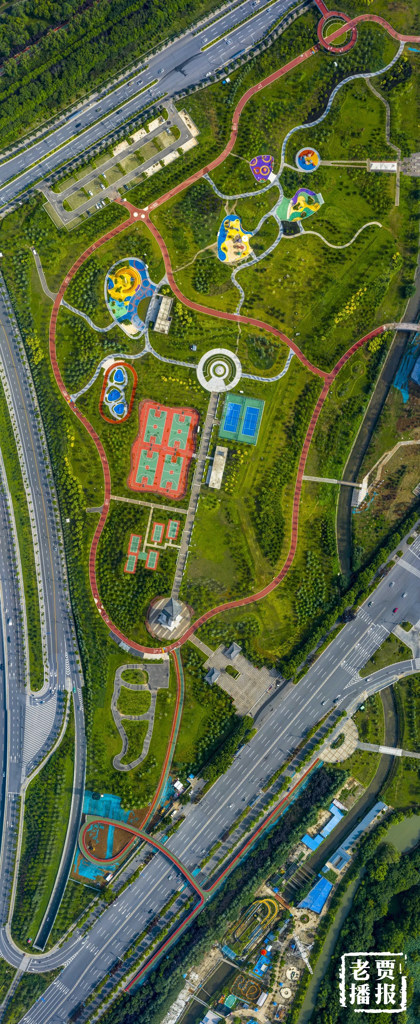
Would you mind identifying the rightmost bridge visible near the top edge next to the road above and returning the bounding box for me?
[317,0,357,50]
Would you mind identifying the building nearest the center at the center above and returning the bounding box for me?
[209,445,228,489]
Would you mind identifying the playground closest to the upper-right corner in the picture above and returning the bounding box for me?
[296,147,321,172]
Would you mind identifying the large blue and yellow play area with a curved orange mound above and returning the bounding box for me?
[106,259,156,334]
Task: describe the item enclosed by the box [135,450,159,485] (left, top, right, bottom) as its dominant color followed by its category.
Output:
green basketball court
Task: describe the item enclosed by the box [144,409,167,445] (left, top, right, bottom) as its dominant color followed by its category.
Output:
green basketball court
